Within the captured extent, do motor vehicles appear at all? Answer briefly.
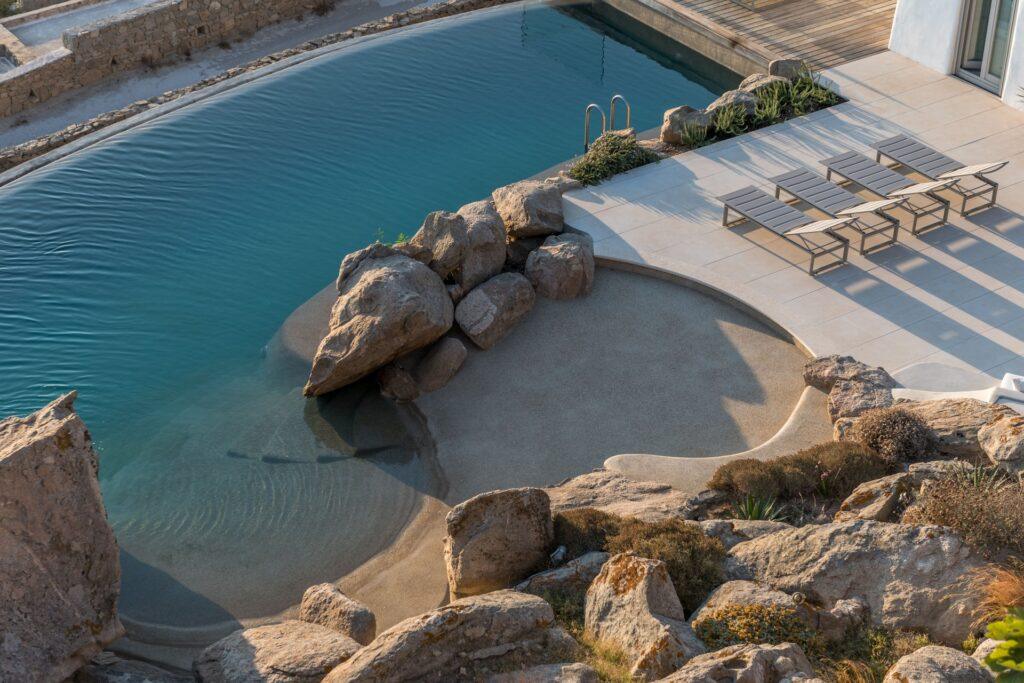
No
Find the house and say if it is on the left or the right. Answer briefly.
right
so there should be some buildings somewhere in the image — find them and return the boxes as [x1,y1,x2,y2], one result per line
[892,0,1024,112]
